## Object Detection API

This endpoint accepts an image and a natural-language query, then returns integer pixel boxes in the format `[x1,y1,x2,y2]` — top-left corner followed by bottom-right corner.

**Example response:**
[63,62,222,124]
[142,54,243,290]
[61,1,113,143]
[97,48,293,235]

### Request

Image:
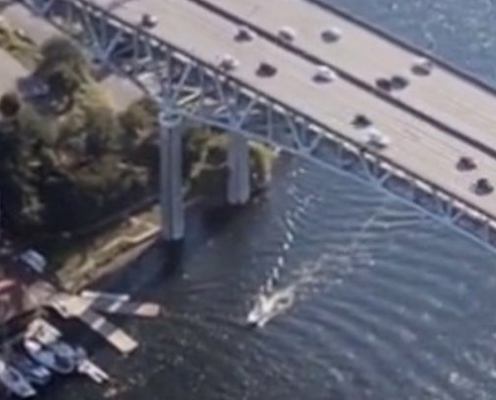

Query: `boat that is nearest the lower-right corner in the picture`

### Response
[249,303,271,321]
